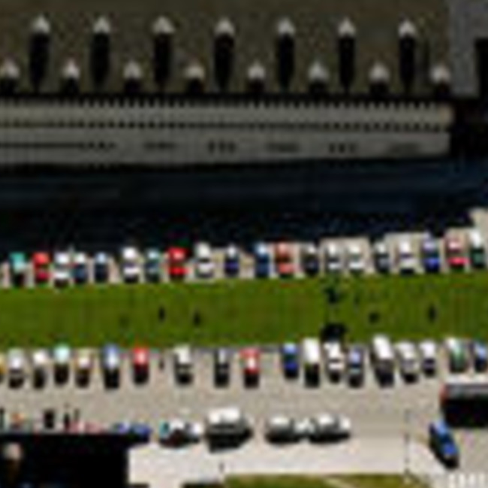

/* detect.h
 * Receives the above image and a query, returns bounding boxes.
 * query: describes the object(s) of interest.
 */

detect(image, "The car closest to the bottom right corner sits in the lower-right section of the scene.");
[426,423,462,458]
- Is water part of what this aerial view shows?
No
